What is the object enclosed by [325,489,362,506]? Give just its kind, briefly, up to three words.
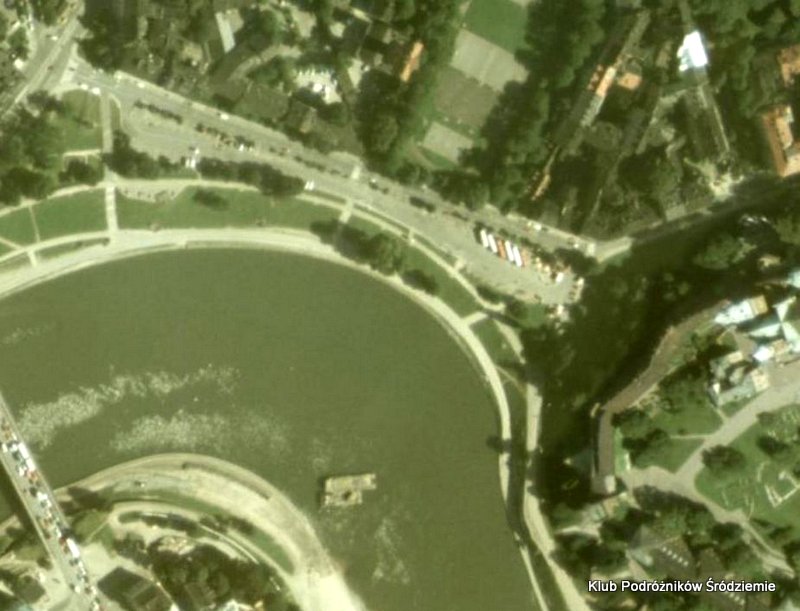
ship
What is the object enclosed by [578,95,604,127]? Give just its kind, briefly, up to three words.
house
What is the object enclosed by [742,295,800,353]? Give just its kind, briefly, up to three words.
building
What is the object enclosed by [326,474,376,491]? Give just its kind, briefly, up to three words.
ship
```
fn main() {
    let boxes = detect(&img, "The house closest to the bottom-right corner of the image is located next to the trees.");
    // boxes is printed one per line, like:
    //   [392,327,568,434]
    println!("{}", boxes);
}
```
[703,553,764,611]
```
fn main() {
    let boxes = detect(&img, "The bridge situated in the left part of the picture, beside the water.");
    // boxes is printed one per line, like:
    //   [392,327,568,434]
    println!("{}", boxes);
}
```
[0,389,109,611]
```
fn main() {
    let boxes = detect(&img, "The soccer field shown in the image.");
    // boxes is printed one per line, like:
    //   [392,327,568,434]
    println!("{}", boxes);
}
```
[463,0,530,51]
